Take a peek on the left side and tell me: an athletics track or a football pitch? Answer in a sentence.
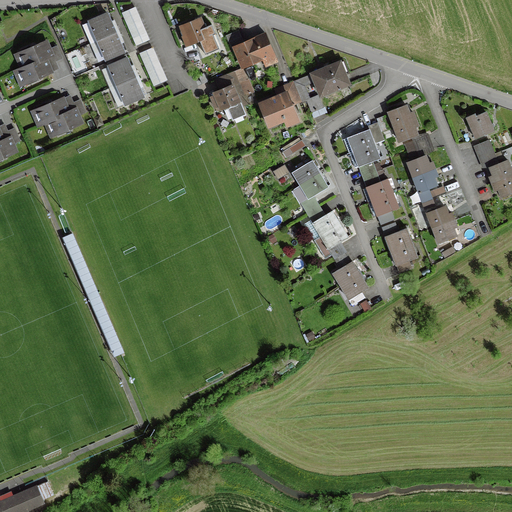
It is a football pitch that can be seen on the left side.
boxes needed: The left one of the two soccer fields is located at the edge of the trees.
[0,178,136,478]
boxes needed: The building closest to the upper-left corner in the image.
[14,40,62,86]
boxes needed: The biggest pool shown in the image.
[266,215,282,230]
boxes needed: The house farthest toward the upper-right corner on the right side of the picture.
[466,109,494,139]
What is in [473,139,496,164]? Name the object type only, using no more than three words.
building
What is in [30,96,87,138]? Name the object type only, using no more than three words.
house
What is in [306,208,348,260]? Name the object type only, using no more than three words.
house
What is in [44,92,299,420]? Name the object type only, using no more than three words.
soccer field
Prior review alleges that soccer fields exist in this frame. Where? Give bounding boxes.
[0,178,136,478]
[44,92,299,420]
